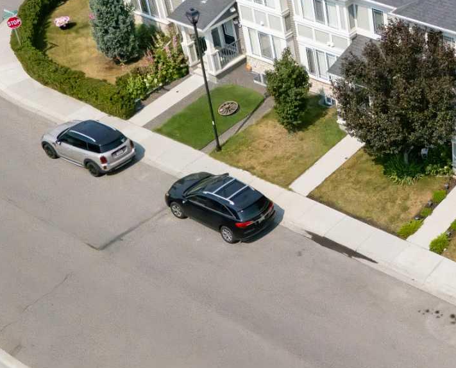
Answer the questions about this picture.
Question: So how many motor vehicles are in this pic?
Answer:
2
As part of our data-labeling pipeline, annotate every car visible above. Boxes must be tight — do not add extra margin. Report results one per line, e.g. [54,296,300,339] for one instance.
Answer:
[42,117,135,181]
[162,172,275,248]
